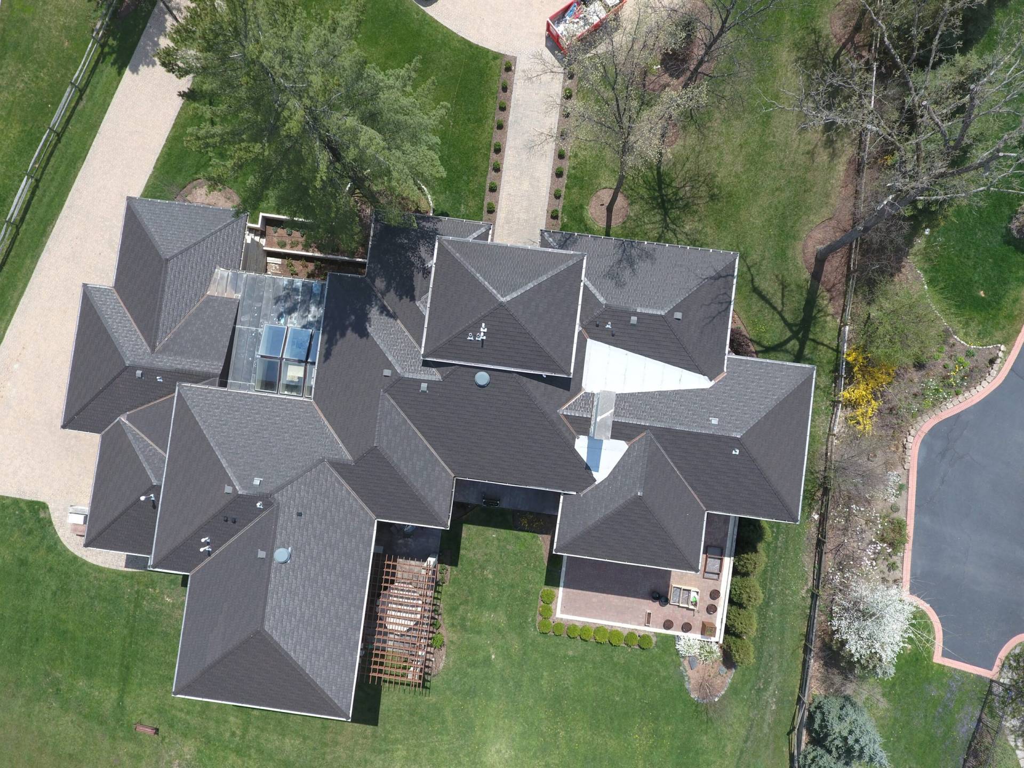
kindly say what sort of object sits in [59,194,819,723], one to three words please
house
